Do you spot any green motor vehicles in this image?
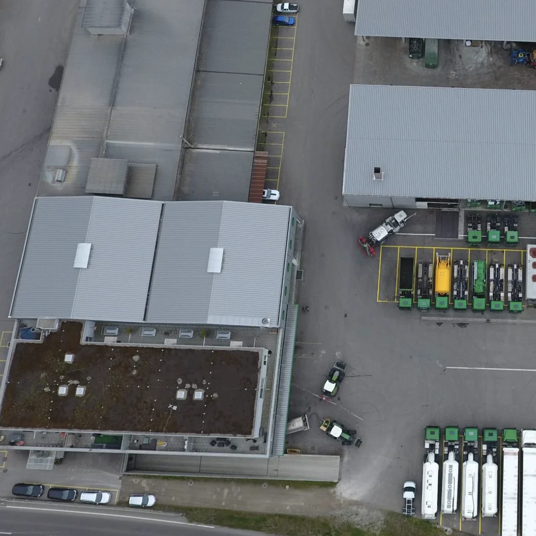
Yes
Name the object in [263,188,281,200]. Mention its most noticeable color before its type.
white vehicle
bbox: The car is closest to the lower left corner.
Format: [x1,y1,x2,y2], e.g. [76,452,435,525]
[10,482,47,499]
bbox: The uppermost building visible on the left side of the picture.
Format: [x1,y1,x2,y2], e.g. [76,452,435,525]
[35,0,280,204]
